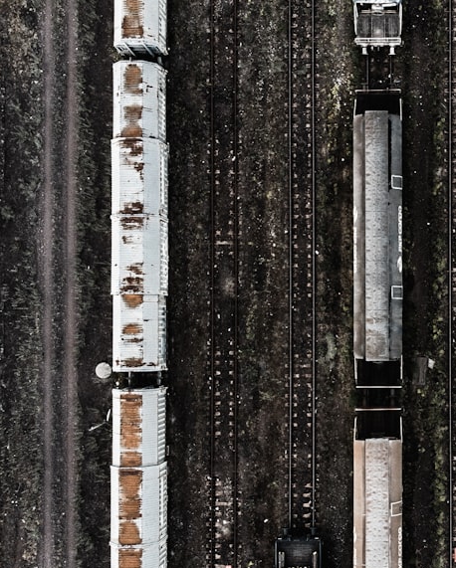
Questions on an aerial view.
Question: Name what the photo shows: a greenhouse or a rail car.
rail car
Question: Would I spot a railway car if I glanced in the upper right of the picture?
Yes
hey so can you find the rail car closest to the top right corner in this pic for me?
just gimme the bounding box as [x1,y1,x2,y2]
[354,0,403,58]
